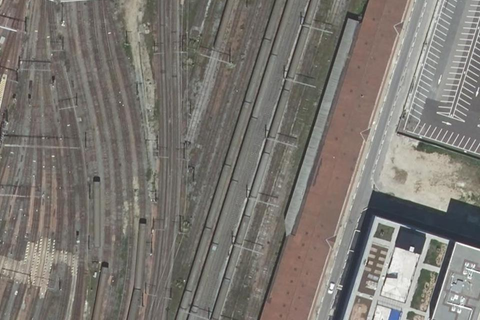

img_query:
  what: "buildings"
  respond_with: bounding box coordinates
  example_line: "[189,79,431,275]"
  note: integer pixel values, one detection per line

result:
[258,0,409,320]
[336,215,452,320]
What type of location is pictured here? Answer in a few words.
rail yard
